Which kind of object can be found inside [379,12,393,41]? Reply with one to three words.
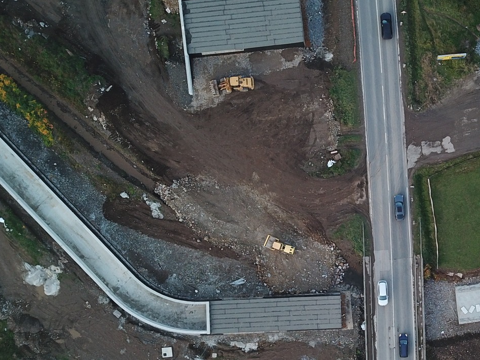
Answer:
vehicle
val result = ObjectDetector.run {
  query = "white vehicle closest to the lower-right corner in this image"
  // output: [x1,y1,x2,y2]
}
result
[376,280,389,306]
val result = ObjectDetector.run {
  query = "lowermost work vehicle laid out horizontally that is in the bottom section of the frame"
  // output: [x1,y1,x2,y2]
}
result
[260,234,294,254]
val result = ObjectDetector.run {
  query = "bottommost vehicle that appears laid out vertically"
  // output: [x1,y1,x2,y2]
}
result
[398,333,410,358]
